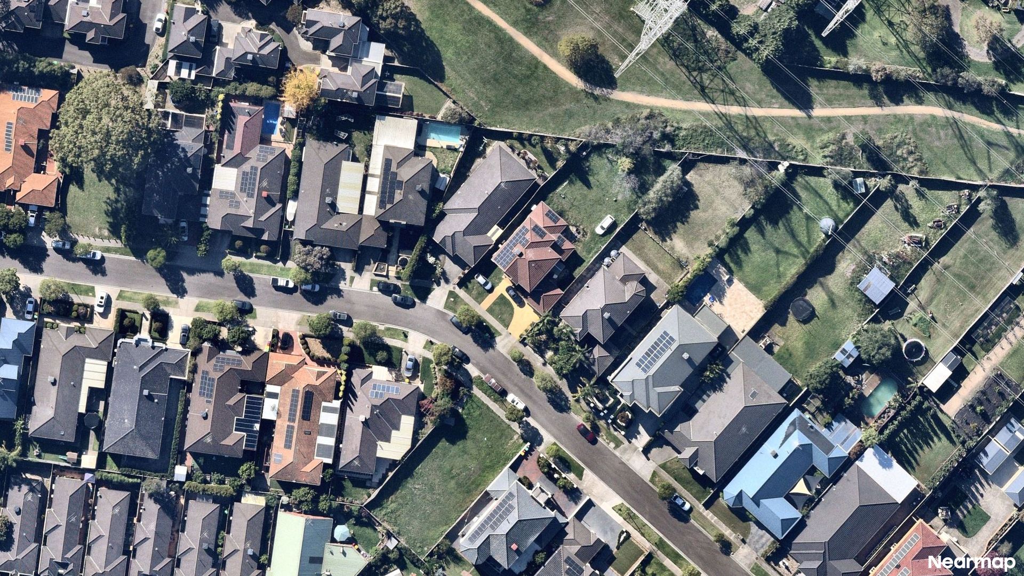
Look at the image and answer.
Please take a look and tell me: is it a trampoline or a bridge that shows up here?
trampoline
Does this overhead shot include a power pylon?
Yes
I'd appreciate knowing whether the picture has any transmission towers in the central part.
No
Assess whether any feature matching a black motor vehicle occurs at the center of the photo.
Yes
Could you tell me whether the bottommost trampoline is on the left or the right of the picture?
right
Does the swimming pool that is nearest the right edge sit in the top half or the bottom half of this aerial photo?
bottom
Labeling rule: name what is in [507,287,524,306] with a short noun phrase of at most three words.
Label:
car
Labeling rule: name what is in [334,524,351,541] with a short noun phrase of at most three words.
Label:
umbrella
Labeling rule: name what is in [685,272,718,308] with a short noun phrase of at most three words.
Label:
swimming pool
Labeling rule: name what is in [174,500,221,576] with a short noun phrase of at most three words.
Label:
house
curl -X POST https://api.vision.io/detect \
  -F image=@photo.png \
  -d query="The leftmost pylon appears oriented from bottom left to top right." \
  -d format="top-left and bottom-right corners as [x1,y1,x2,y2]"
[616,0,714,76]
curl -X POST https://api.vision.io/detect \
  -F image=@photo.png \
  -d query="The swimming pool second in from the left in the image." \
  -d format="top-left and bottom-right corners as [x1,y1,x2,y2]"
[426,122,462,145]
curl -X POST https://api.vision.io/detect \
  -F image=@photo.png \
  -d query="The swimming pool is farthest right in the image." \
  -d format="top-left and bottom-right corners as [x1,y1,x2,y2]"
[859,377,900,419]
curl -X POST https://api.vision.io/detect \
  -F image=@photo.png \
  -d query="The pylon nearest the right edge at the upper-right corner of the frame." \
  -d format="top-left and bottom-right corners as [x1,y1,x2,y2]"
[822,0,863,37]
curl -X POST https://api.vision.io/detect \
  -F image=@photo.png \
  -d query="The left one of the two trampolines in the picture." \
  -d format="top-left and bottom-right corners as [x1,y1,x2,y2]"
[790,296,815,322]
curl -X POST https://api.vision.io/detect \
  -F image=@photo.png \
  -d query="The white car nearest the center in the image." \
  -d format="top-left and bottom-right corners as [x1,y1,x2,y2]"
[475,273,492,290]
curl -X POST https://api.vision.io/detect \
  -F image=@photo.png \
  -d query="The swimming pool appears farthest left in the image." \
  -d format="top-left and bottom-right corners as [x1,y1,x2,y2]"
[261,101,282,136]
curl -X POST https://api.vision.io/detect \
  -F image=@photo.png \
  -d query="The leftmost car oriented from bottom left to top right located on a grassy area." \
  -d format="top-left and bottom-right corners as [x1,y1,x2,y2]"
[596,215,614,234]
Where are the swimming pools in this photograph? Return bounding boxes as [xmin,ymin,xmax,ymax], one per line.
[426,122,462,145]
[685,272,718,308]
[261,101,282,136]
[859,377,900,419]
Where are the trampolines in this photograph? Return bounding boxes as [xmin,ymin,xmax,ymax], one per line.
[790,296,815,322]
[903,339,925,361]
